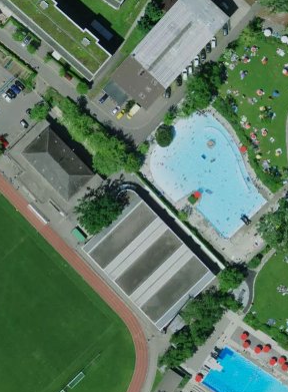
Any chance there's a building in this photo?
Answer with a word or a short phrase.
Yes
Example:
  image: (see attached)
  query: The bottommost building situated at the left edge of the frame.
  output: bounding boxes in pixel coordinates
[9,119,104,214]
